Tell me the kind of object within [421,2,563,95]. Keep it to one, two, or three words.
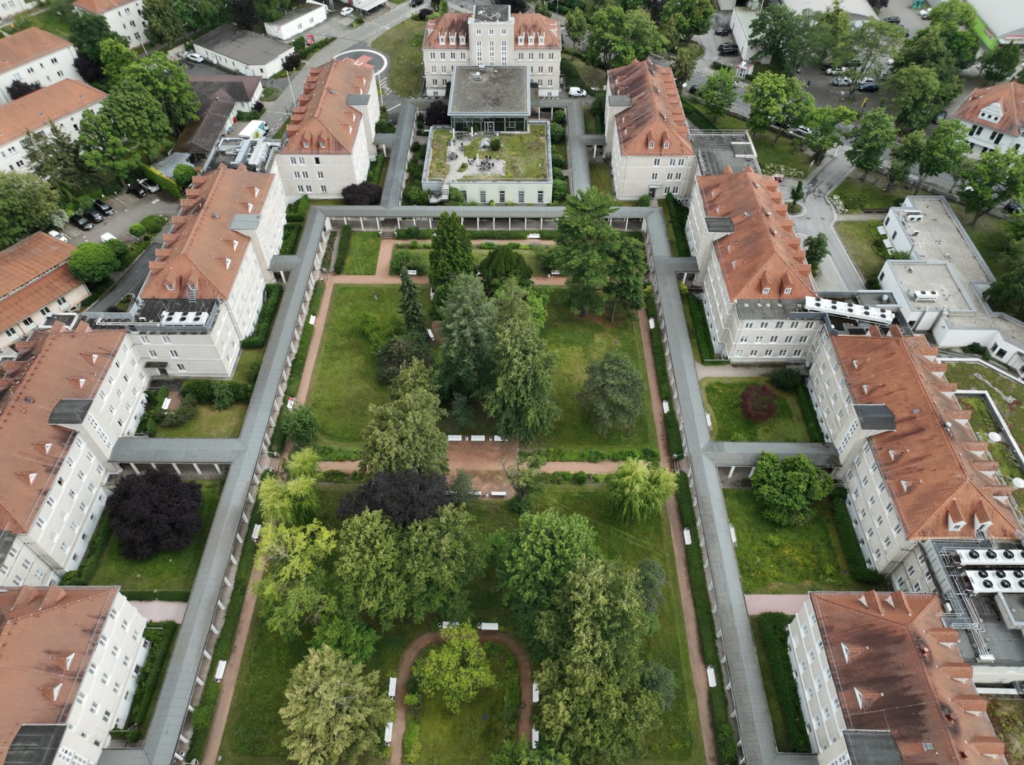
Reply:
building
